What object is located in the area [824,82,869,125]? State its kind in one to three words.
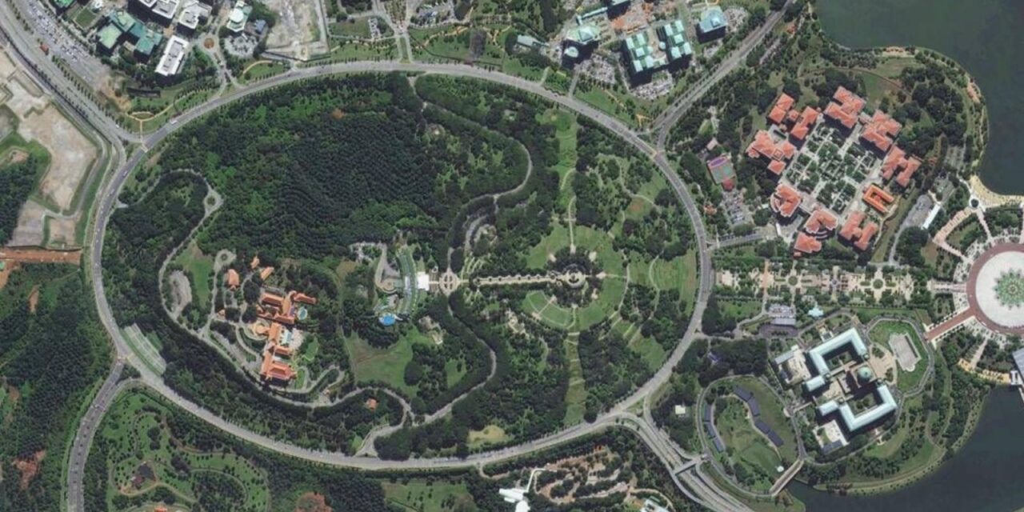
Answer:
building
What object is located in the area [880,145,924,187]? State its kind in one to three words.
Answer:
building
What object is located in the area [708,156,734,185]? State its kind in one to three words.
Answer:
tennis court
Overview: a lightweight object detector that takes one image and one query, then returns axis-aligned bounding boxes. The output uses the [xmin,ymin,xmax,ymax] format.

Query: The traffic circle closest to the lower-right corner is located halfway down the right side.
[963,240,1024,338]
